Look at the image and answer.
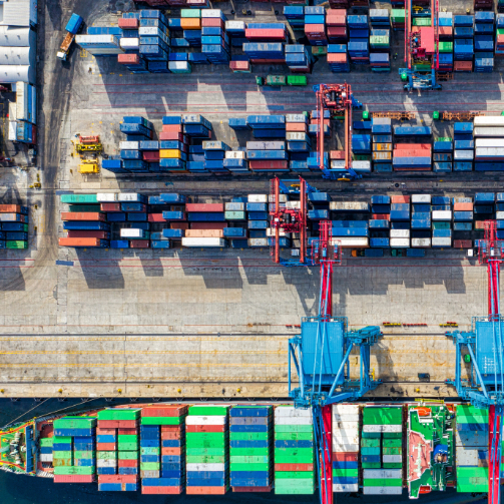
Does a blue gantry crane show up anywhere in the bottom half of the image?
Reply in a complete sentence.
Yes, in the bottom half of the image there is a blue gantry crane.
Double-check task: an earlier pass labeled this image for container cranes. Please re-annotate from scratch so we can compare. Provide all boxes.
[444,219,504,504]
[397,0,441,90]
[313,84,362,182]
[282,219,383,504]
[268,179,320,268]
